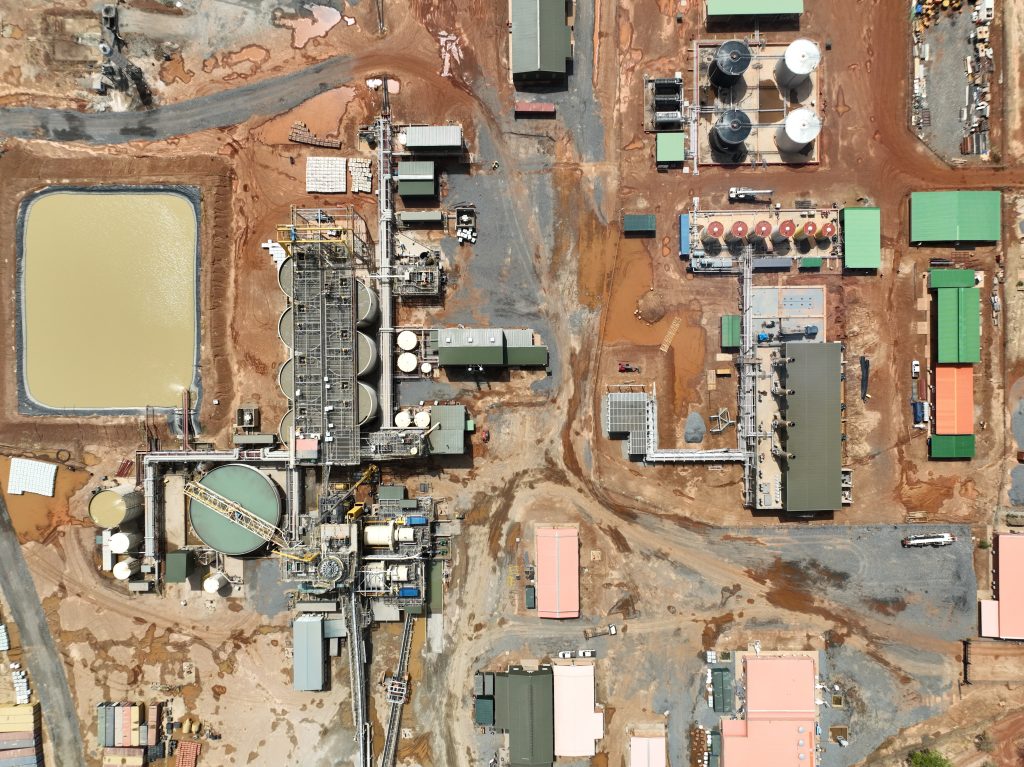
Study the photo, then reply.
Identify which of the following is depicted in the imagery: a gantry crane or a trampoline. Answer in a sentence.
This aerial view contains a gantry crane.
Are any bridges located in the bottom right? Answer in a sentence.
No, there's no bridge to be seen in the bottom right.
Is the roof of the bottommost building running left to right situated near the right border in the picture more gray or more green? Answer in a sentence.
The roof of the bottommost building running left to right situated near the right border is green.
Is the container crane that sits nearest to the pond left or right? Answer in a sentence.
The container crane that sits nearest to the pond sits on the left side.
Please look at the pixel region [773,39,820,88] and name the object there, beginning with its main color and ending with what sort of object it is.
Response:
white storage tank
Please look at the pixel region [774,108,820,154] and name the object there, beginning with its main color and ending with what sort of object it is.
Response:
white storage tank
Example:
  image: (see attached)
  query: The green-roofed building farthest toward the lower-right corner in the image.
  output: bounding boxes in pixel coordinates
[924,435,975,458]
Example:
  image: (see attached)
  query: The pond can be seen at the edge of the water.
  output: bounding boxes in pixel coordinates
[18,186,202,415]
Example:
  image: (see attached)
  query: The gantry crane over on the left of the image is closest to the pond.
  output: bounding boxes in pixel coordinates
[276,208,367,256]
